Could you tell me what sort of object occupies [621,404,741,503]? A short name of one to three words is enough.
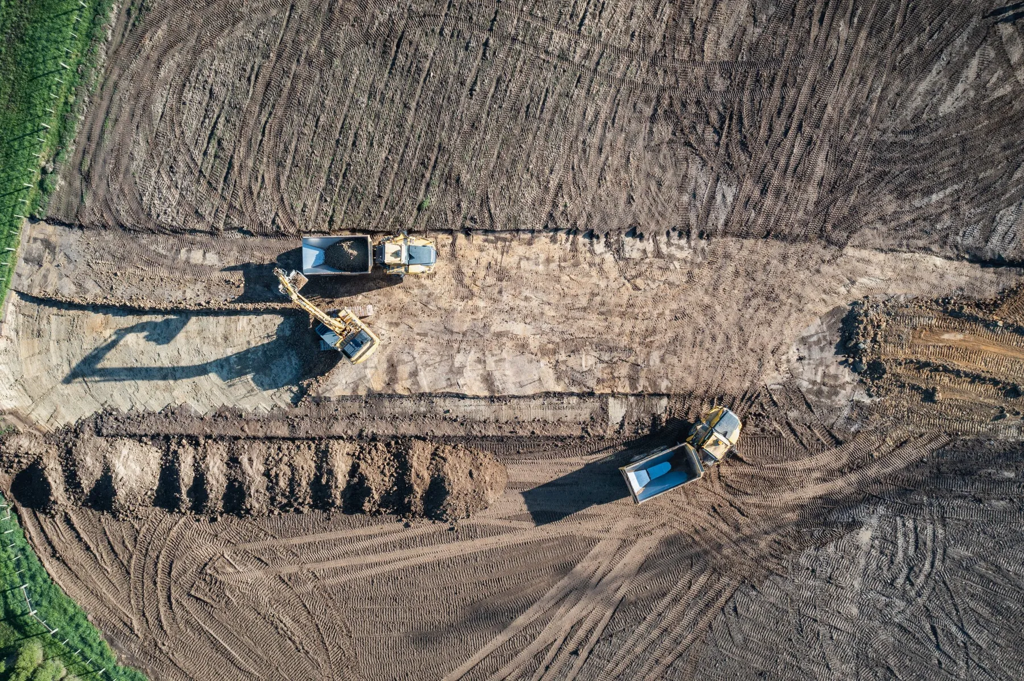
truck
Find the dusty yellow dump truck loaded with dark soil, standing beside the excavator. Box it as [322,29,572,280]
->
[300,233,437,279]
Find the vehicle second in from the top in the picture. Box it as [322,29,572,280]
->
[276,267,380,361]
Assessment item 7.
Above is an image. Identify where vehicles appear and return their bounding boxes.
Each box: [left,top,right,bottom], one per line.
[621,404,741,503]
[300,233,437,279]
[276,267,380,361]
